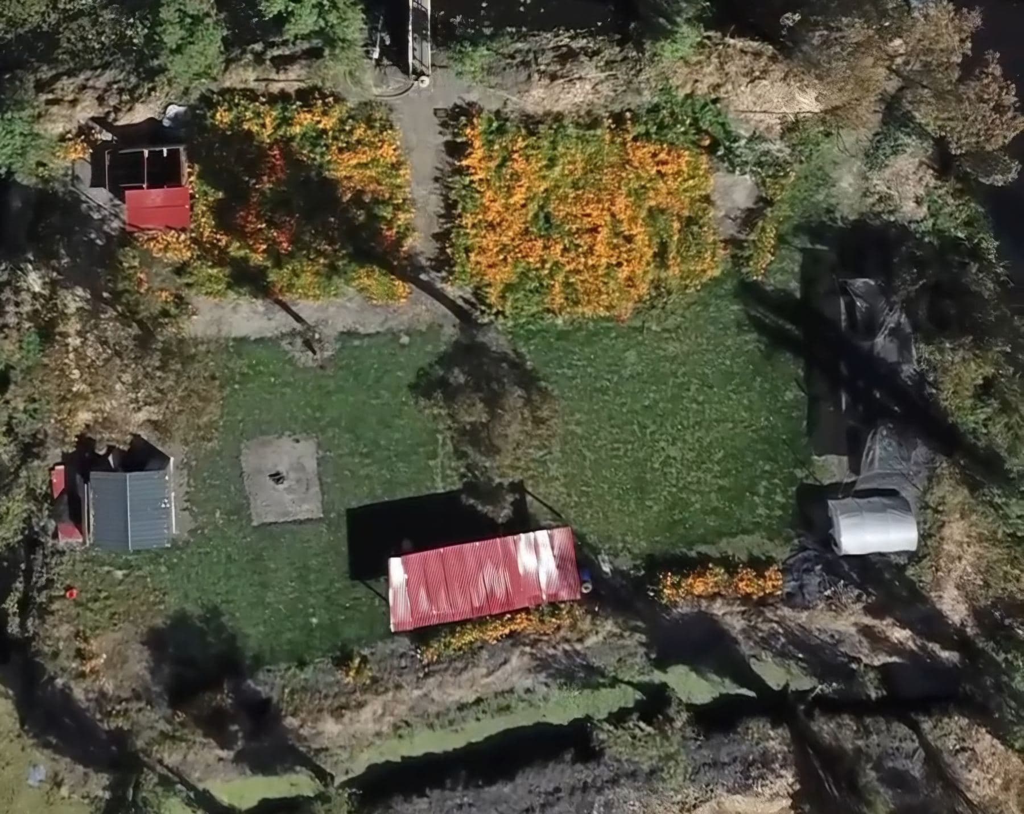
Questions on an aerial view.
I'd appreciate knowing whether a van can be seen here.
No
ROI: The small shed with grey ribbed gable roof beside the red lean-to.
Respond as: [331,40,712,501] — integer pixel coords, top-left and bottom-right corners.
[89,458,172,553]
